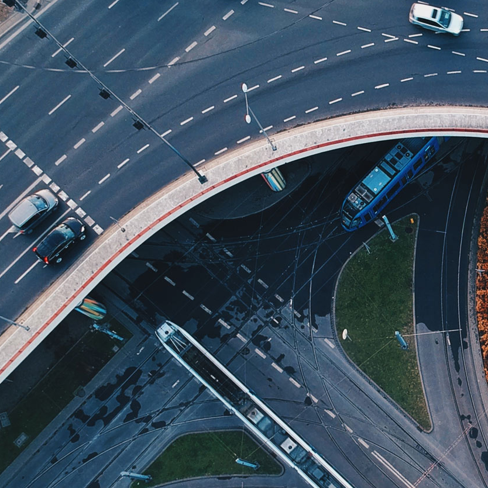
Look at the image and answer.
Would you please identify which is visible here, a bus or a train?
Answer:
train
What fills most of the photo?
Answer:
paved ground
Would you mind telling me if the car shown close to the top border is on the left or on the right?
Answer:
right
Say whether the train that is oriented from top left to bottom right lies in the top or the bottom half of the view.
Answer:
bottom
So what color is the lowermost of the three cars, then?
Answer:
black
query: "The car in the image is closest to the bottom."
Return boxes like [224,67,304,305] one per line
[31,218,88,269]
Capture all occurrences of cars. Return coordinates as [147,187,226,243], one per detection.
[31,218,88,269]
[5,186,62,233]
[408,0,466,38]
